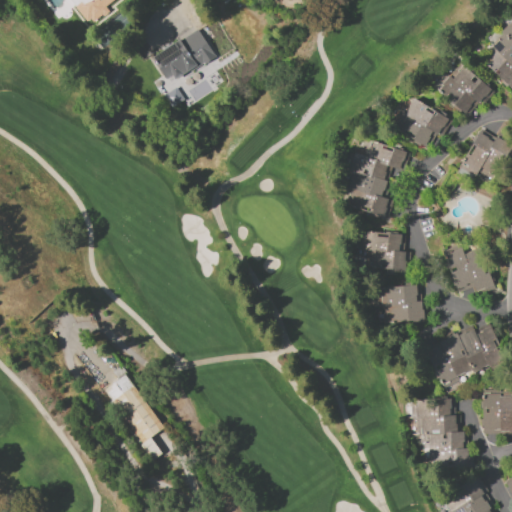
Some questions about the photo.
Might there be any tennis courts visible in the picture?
No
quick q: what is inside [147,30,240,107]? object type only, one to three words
house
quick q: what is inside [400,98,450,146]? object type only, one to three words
building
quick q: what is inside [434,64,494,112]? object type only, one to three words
building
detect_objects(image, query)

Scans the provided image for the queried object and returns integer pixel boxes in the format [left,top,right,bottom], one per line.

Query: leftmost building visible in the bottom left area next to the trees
[106,376,164,458]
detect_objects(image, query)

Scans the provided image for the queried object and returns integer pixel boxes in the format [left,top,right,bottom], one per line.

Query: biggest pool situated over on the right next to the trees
[441,190,491,234]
